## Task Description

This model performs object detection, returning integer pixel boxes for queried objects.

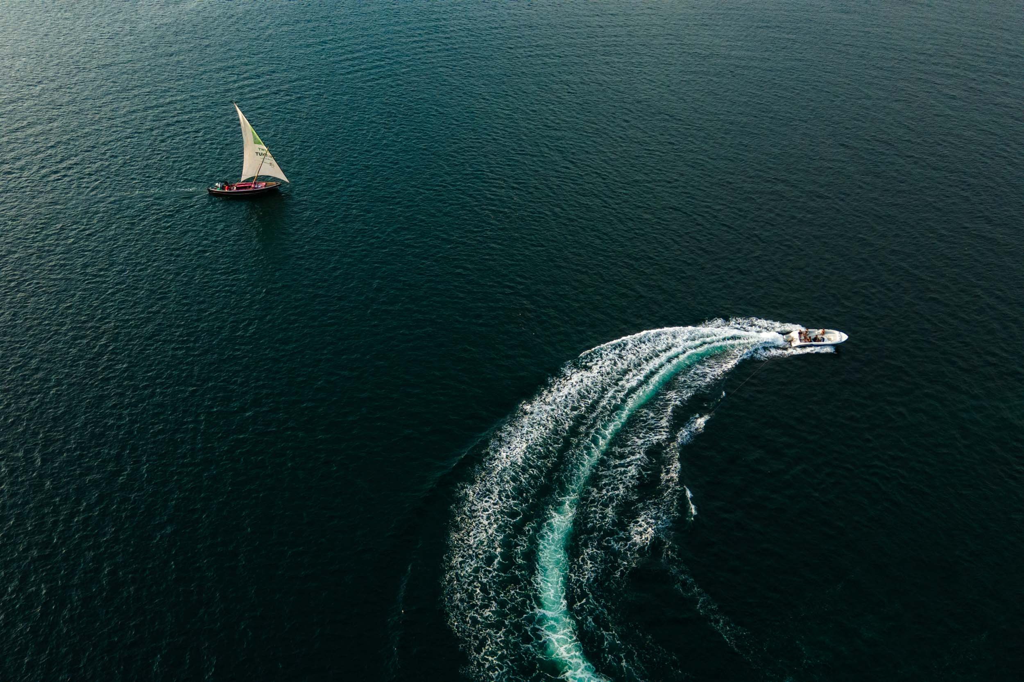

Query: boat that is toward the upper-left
[206,100,290,196]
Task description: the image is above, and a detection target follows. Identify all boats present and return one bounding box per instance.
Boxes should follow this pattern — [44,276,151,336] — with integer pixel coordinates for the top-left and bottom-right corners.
[206,100,290,196]
[783,328,850,347]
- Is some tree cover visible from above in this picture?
No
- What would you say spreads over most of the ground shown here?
water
